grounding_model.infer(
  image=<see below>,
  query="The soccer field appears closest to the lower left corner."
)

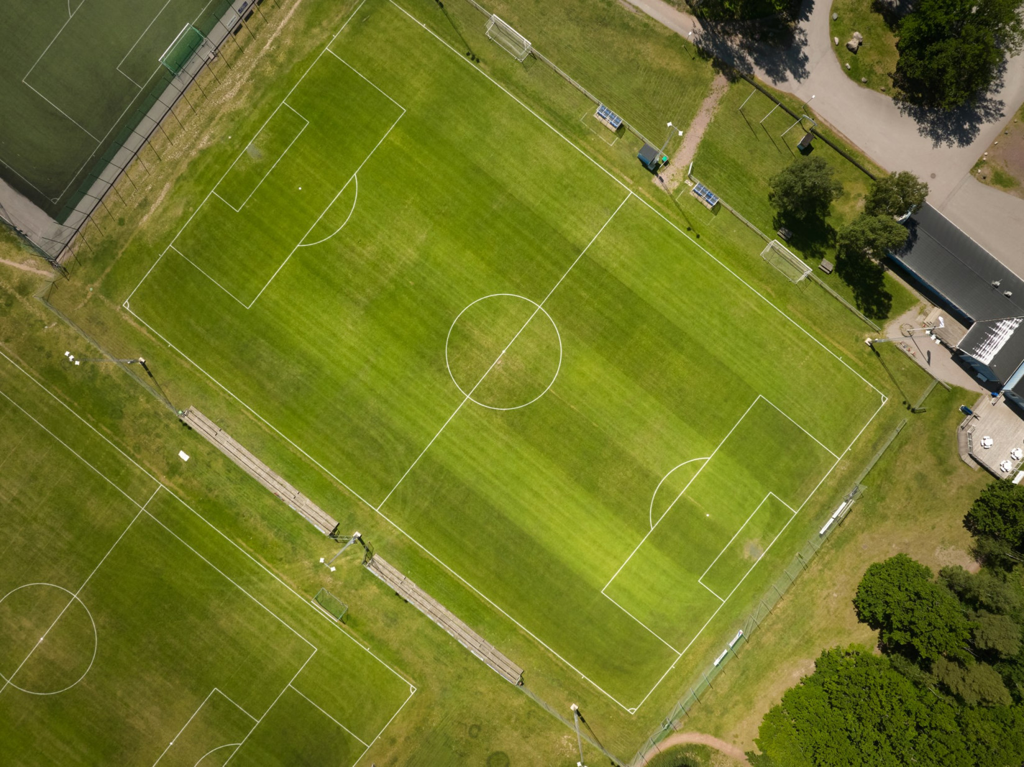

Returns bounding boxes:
[0,352,416,767]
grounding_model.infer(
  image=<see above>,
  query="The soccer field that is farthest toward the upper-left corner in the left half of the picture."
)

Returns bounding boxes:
[0,0,234,224]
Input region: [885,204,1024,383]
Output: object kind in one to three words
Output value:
building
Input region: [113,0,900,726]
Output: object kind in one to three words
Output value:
soccer field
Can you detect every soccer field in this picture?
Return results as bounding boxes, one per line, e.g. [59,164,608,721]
[0,352,416,767]
[113,0,900,726]
[0,0,234,224]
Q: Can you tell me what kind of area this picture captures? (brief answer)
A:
sports ground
